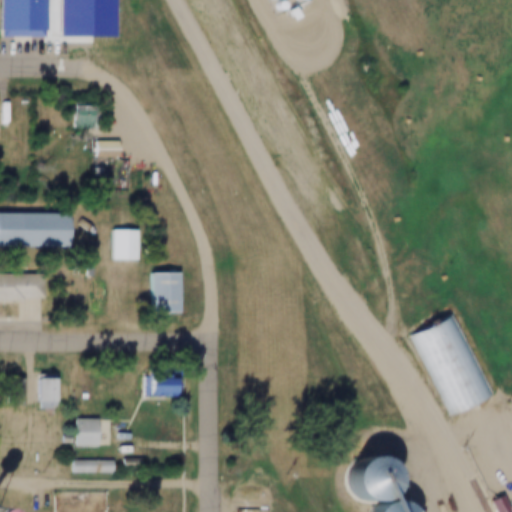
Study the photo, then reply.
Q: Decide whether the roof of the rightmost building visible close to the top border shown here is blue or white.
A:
blue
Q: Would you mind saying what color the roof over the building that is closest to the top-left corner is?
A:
blue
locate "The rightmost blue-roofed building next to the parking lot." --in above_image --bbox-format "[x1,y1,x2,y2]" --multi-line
[62,0,119,37]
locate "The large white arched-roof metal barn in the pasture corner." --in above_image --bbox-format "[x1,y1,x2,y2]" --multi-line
[412,314,492,416]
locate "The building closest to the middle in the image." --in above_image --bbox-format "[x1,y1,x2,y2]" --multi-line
[150,272,183,314]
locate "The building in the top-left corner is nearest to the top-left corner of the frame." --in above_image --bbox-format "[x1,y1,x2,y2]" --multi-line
[2,0,48,37]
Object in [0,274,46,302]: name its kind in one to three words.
house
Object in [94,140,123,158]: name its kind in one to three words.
building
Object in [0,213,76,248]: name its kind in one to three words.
shed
